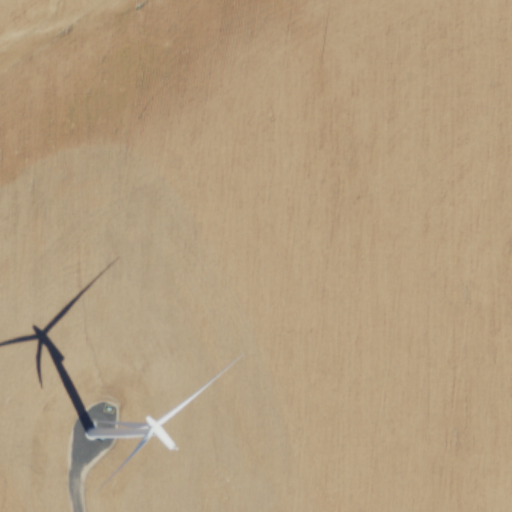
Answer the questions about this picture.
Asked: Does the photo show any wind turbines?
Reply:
Yes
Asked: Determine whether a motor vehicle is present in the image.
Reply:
No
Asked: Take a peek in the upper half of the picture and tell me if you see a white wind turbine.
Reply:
No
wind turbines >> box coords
[86,354,246,486]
